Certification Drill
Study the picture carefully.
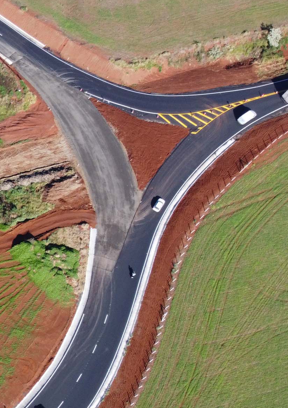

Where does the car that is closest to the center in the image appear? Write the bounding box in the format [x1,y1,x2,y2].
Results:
[152,198,164,214]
